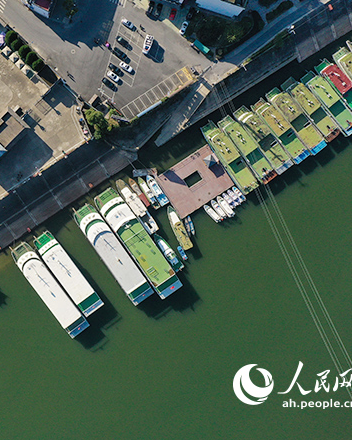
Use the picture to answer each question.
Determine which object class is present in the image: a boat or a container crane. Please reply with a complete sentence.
I can see a boat in this picture.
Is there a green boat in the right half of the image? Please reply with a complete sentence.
Yes, looking in the right half of the image, one can make out a green boat.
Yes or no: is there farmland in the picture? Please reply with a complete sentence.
No, farmland can't be seen anywhere here.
